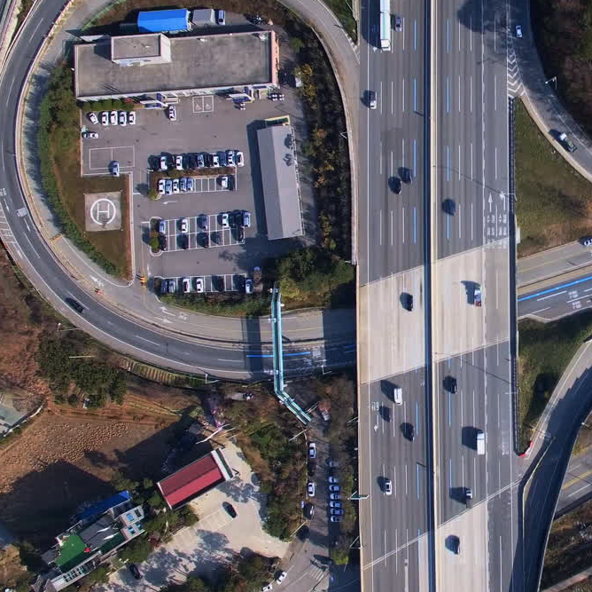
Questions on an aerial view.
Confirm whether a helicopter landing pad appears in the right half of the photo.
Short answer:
No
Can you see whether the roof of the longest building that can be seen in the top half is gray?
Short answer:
Yes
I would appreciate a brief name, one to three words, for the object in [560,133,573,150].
vehicle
